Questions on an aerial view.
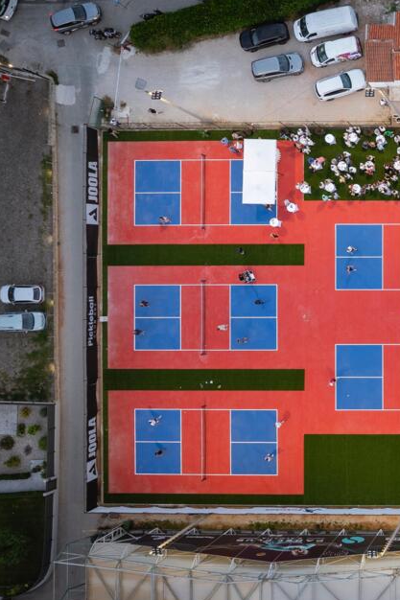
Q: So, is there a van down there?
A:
Yes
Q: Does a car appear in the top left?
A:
Yes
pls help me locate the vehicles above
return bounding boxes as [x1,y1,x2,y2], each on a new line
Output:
[1,282,48,305]
[313,69,369,101]
[240,21,293,52]
[142,10,160,19]
[293,3,360,41]
[310,35,364,67]
[0,0,21,18]
[251,53,305,83]
[48,3,104,35]
[0,309,48,334]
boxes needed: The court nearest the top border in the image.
[108,140,304,245]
